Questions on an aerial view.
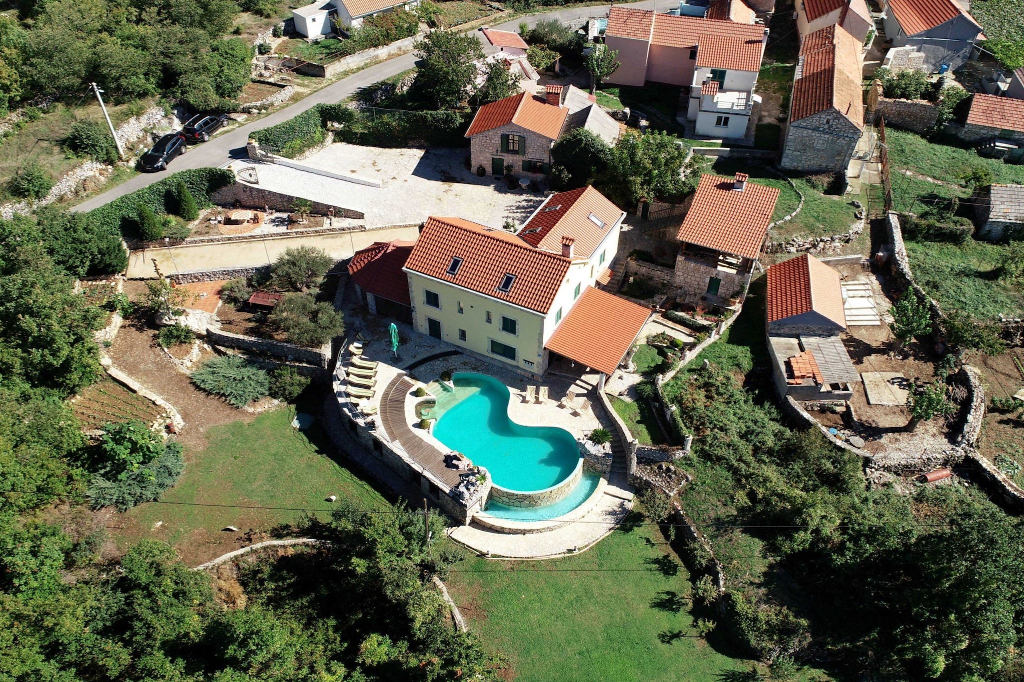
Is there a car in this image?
Yes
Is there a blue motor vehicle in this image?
No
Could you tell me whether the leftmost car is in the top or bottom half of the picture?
top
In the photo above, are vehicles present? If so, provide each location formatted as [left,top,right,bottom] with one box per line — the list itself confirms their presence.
[180,108,231,141]
[139,129,188,170]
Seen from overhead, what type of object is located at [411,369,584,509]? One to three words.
swimming pool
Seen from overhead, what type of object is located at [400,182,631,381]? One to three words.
house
